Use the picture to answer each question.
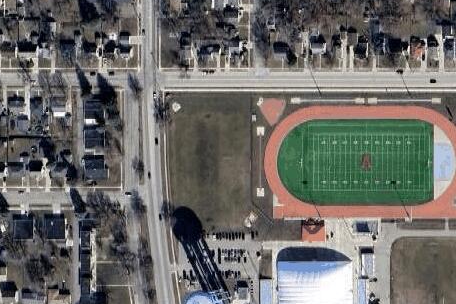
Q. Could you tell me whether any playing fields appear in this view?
Yes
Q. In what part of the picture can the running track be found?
right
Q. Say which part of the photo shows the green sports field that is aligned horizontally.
right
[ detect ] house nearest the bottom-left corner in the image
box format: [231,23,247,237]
[0,285,19,303]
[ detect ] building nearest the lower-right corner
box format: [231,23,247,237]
[360,253,373,278]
